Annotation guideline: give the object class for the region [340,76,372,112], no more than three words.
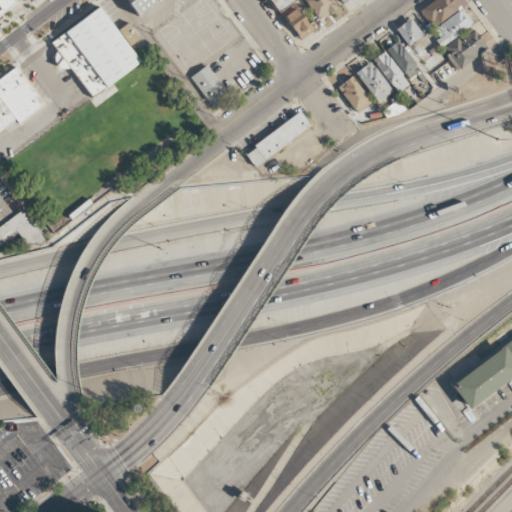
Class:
house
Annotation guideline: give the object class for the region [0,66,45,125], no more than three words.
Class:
building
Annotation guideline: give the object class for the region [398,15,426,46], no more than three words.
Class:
house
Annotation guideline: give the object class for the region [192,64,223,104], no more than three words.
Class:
building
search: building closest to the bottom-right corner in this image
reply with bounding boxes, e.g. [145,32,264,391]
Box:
[456,344,512,409]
